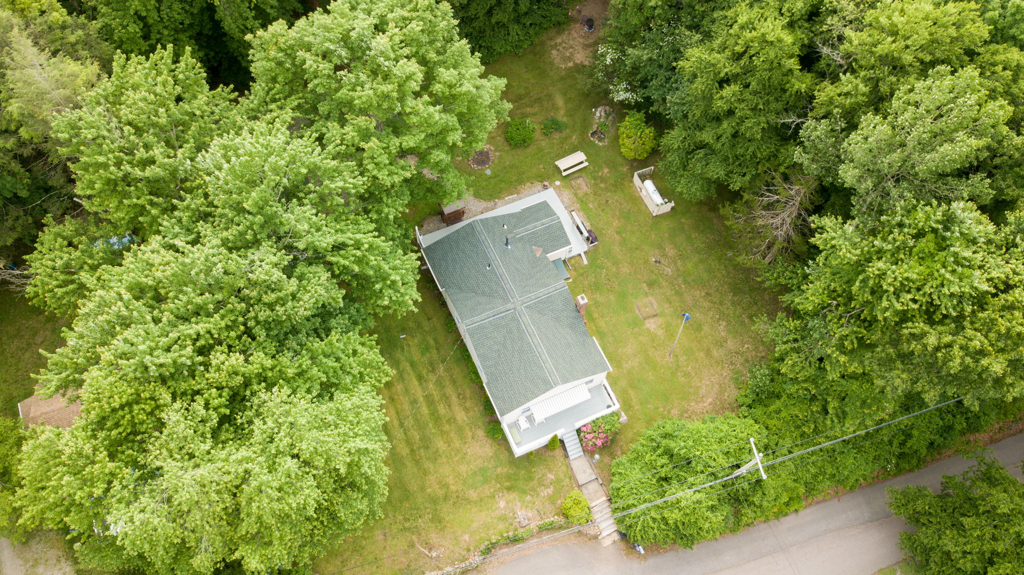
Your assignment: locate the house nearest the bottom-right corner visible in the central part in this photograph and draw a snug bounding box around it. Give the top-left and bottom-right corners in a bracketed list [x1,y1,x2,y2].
[419,188,619,462]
